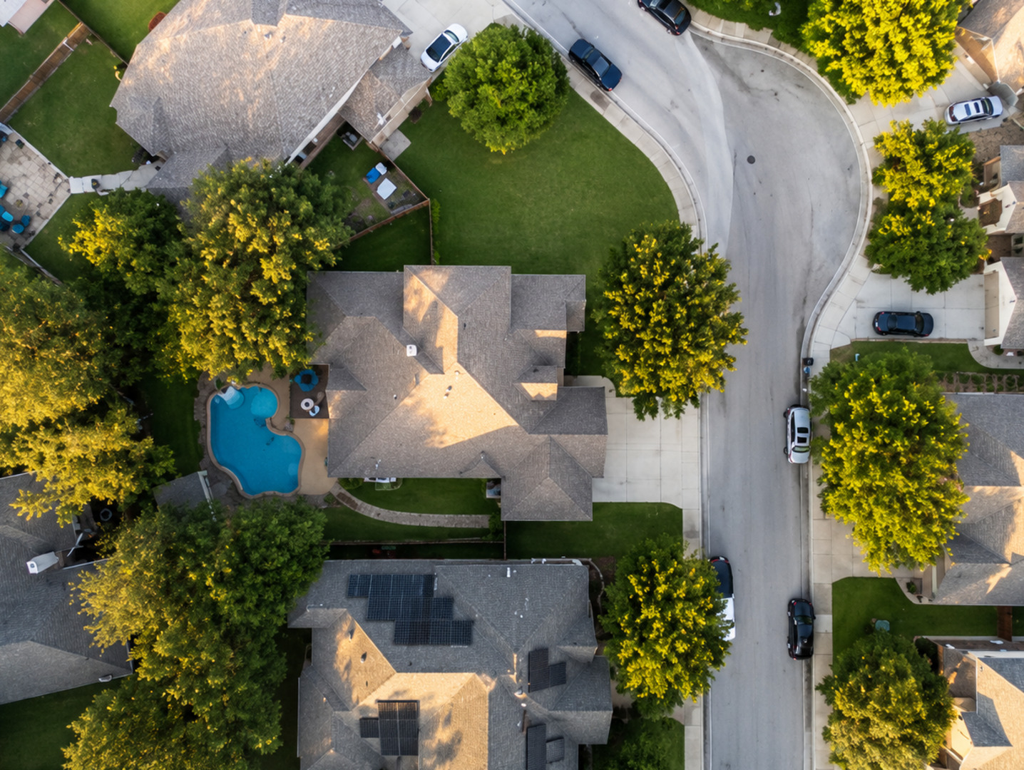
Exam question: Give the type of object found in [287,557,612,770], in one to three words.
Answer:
house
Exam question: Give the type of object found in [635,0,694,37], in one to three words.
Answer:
car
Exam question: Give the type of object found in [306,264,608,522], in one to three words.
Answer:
house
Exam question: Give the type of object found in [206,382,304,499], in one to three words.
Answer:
swimming pool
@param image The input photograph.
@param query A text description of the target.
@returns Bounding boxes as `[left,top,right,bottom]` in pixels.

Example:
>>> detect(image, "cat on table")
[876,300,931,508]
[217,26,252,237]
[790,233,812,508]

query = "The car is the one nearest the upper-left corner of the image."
[417,15,470,74]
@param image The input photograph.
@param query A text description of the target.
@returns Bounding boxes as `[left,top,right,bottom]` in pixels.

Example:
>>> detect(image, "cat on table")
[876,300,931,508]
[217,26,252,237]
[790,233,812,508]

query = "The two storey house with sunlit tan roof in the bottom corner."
[942,644,1024,770]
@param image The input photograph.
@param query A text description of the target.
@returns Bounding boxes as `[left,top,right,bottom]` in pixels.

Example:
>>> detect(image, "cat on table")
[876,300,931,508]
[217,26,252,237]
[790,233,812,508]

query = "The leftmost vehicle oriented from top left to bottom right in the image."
[566,35,626,89]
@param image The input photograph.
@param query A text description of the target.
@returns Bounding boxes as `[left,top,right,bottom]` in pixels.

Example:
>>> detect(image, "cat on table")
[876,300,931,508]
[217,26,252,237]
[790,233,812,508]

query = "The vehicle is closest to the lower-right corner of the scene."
[789,599,821,663]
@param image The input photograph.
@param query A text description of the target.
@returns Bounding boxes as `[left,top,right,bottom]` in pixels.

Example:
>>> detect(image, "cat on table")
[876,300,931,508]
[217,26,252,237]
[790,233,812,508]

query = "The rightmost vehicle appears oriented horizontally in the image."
[944,93,1008,124]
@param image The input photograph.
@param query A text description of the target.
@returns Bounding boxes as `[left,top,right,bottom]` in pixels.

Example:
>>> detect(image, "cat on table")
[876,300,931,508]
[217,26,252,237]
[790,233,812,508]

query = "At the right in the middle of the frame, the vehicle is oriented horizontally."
[874,309,937,338]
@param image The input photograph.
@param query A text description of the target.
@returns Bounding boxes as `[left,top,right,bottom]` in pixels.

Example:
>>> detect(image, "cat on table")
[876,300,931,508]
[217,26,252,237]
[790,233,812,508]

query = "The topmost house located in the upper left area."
[110,0,432,191]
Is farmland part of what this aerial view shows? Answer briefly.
No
